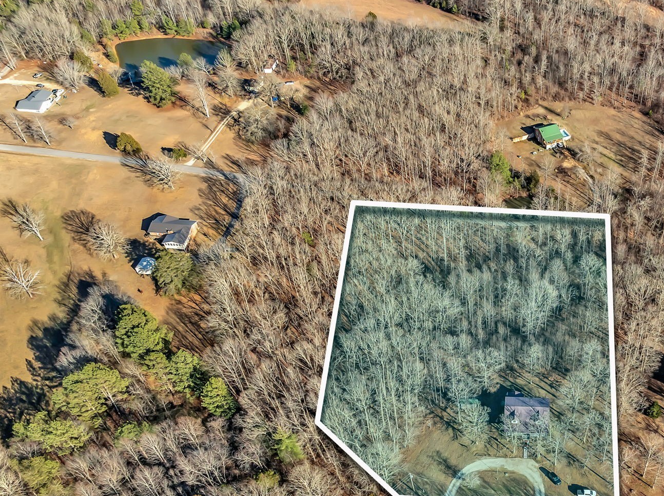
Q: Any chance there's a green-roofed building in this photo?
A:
Yes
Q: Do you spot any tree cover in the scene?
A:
Yes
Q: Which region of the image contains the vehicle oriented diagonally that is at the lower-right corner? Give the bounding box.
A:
[546,470,561,487]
